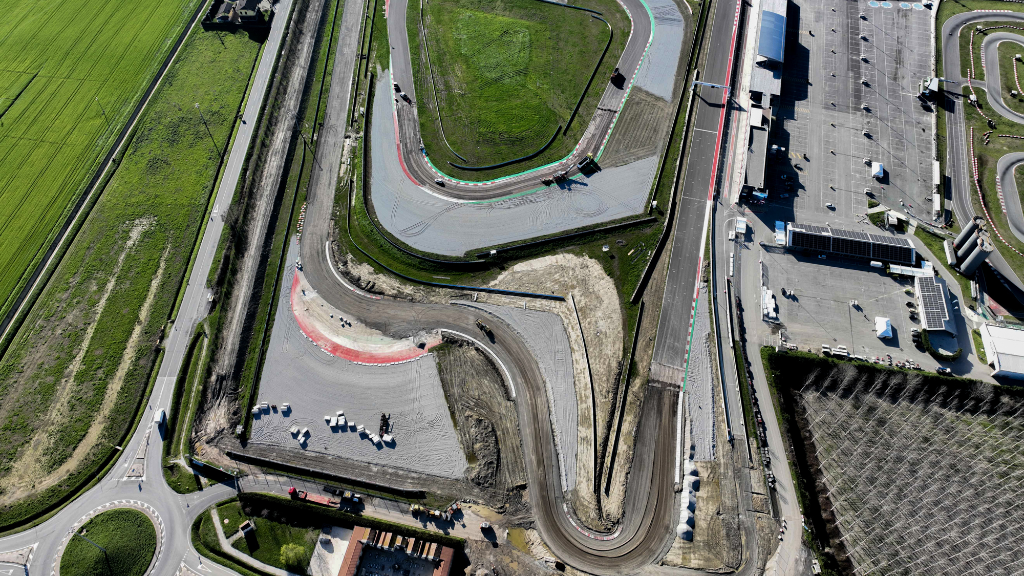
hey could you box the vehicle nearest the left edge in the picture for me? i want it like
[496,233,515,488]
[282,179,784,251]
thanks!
[151,409,167,432]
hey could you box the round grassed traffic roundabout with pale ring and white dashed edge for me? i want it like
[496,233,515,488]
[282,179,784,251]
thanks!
[45,500,169,576]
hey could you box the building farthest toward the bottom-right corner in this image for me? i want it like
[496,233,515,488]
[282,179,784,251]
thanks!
[978,322,1024,383]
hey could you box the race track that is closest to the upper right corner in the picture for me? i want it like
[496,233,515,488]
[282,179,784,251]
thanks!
[942,10,1024,330]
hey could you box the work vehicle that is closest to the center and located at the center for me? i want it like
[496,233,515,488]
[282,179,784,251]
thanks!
[475,317,490,331]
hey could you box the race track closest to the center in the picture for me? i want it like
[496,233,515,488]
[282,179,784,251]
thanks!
[291,0,763,575]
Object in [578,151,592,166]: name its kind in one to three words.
vehicle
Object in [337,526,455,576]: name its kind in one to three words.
building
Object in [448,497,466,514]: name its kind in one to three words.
work vehicle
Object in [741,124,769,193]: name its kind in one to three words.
building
